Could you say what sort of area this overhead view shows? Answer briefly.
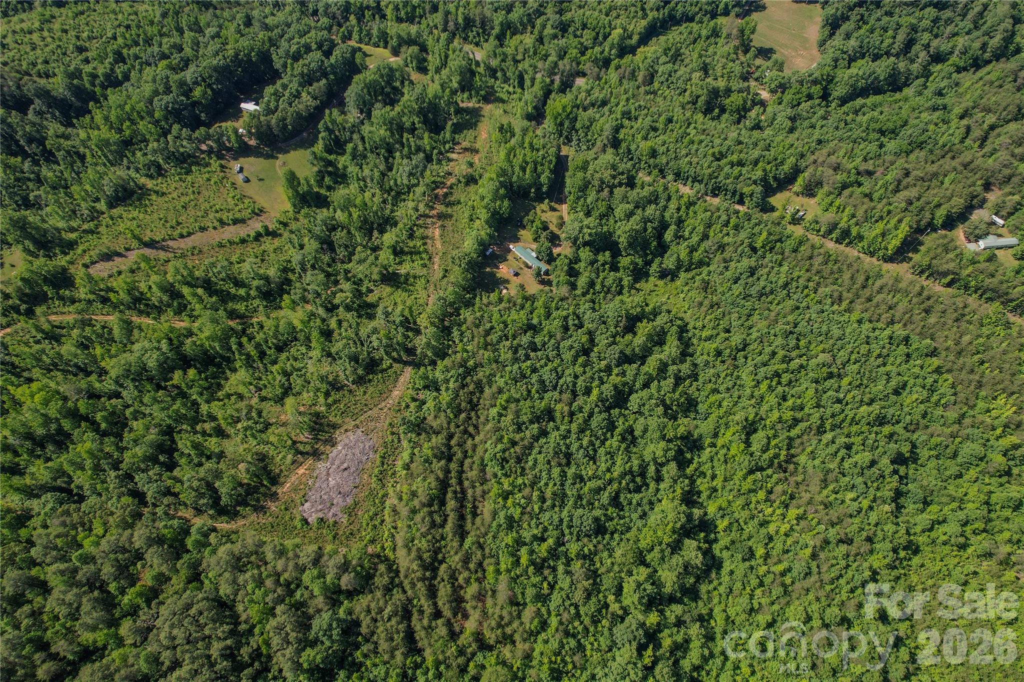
forest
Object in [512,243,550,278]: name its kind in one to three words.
house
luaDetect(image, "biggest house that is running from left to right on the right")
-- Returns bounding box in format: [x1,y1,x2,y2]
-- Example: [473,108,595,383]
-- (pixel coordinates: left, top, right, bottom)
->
[965,232,1021,253]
